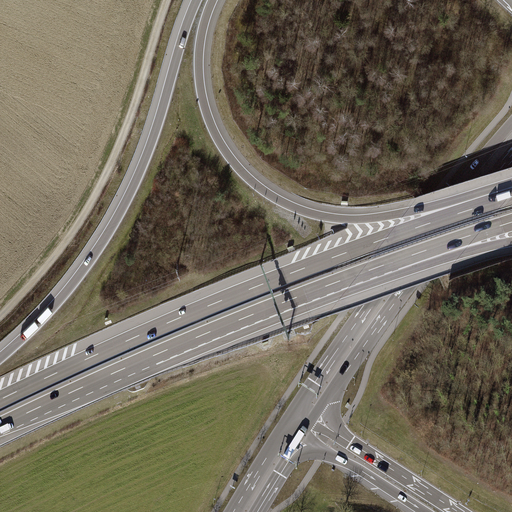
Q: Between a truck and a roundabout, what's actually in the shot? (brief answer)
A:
truck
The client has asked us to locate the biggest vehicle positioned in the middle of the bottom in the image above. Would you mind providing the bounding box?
[284,424,308,459]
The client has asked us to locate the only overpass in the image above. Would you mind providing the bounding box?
[323,168,512,318]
